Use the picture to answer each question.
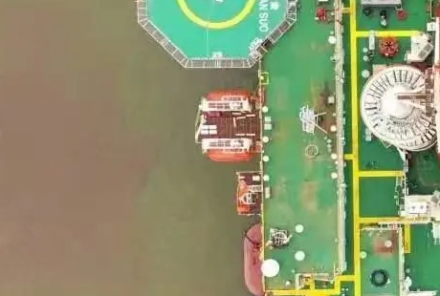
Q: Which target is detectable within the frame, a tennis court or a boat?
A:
boat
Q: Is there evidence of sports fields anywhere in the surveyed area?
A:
No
